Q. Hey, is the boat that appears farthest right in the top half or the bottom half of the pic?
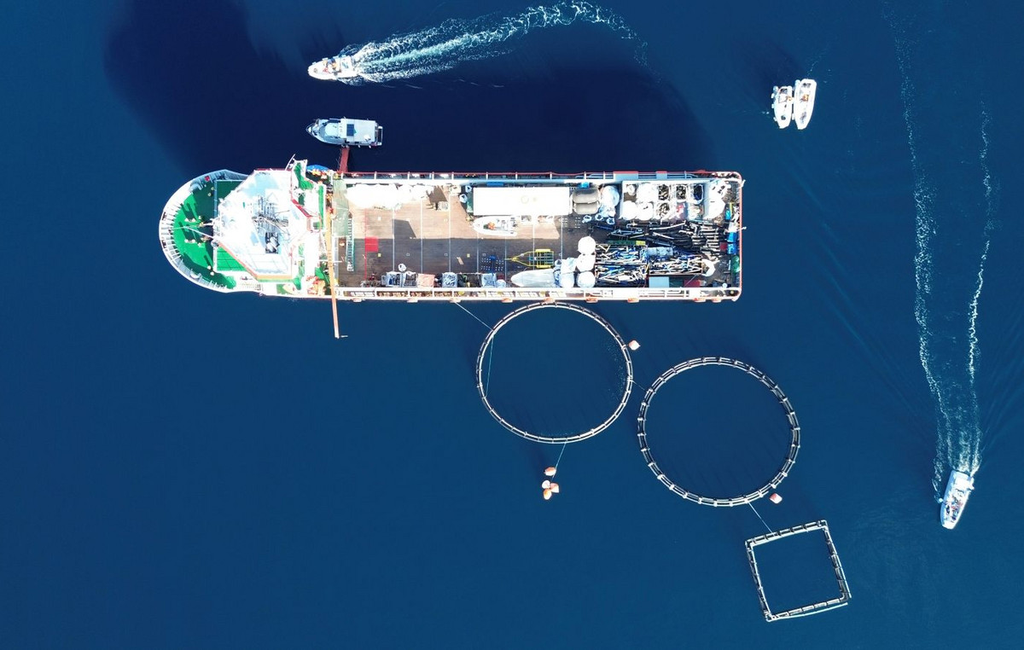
bottom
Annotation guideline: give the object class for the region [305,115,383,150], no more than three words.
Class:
boat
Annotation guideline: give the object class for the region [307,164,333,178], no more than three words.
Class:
boat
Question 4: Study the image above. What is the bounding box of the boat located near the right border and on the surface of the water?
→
[941,467,976,531]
